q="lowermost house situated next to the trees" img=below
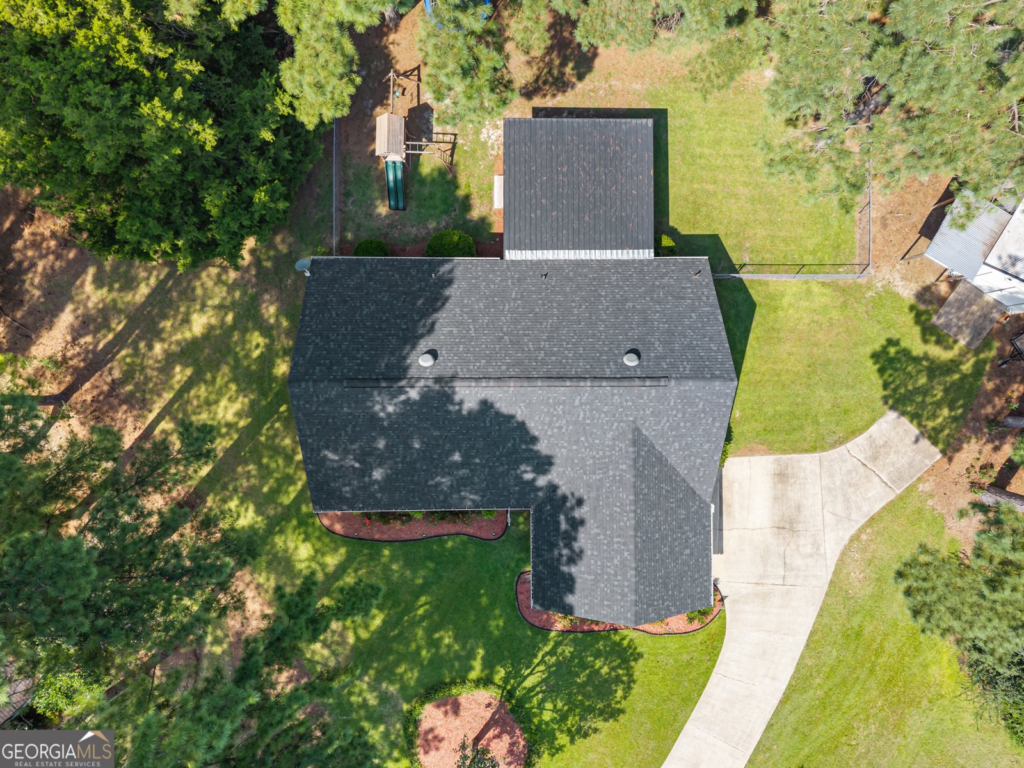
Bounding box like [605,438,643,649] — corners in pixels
[287,255,736,627]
